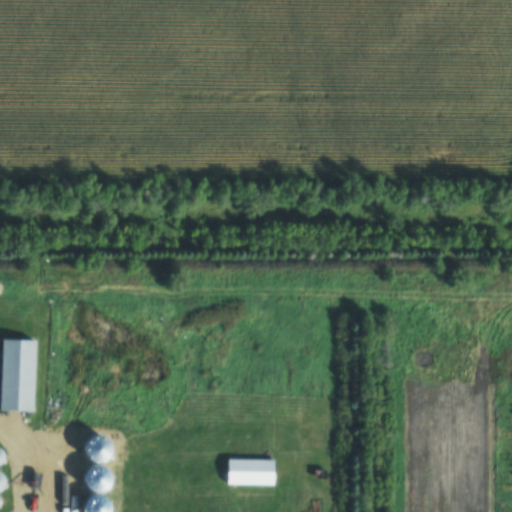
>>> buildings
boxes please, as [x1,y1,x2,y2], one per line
[0,340,36,410]
[227,459,274,486]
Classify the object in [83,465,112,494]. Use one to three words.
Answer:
silo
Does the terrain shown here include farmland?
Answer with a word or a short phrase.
Yes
